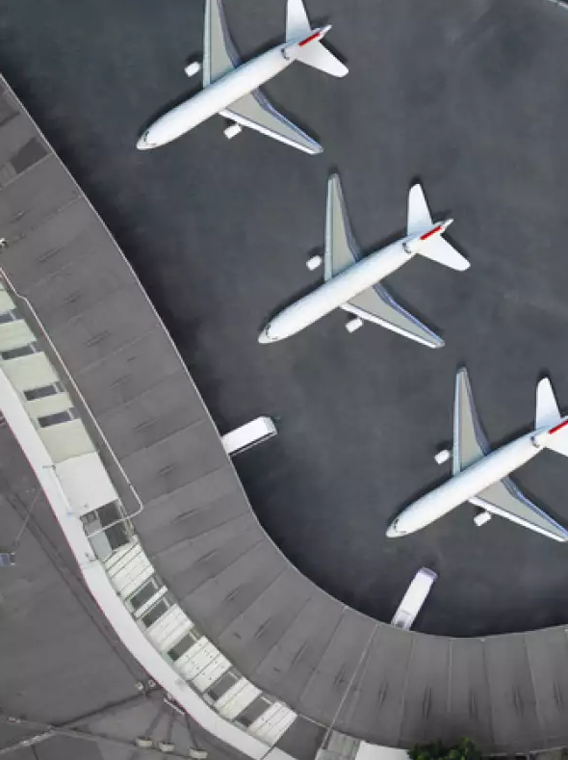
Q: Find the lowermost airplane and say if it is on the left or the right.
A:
right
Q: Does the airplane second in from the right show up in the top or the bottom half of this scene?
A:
top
